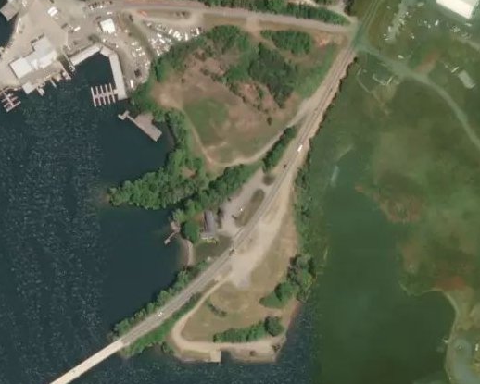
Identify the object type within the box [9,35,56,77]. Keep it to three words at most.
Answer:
building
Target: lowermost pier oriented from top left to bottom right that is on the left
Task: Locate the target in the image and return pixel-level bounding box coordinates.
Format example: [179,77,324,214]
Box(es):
[118,111,162,141]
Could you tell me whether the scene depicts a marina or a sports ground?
marina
